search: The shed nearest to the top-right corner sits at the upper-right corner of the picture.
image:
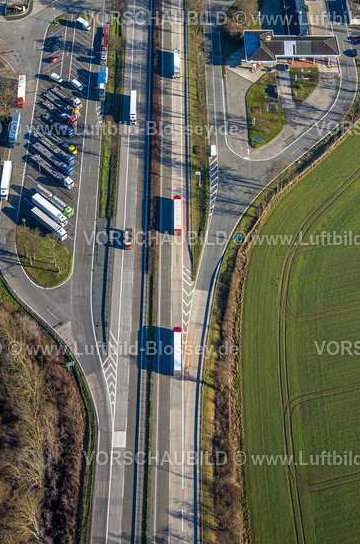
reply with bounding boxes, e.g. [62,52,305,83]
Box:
[346,0,360,26]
